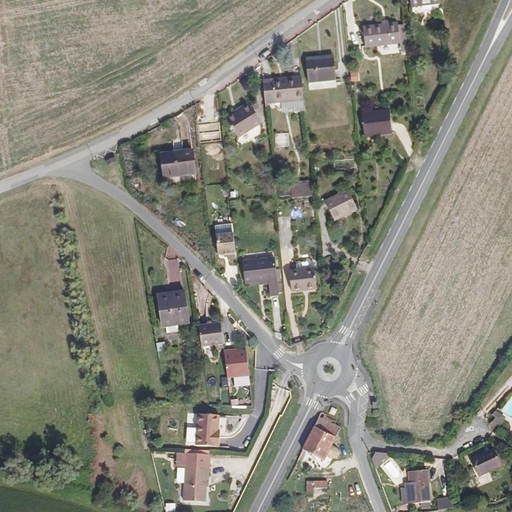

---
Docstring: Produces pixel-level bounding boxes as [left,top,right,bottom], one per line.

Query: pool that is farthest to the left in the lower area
[380,456,406,487]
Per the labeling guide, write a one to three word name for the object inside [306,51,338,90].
house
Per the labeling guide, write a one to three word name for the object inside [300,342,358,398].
roundabout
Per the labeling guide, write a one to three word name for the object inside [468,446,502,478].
house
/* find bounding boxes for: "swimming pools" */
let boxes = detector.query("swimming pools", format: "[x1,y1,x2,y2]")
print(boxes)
[502,394,512,413]
[380,456,406,487]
